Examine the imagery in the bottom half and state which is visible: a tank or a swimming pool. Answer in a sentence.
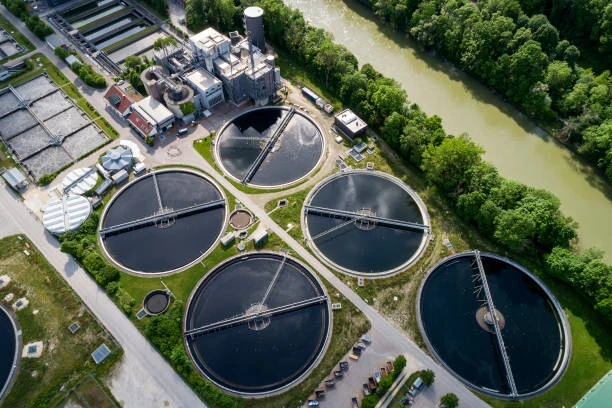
There is a tank in the bottom half.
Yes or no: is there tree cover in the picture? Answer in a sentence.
Yes, there's tree cover in this view.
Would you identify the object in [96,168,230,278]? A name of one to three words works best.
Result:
storage tank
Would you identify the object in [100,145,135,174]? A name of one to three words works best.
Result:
building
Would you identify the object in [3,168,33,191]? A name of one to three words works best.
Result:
shed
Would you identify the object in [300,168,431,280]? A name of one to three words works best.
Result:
storage tank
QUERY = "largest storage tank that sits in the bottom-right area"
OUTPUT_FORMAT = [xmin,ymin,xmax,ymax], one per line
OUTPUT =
[416,250,570,401]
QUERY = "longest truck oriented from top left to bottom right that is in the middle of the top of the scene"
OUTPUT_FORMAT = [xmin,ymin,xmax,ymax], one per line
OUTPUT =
[299,84,325,108]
